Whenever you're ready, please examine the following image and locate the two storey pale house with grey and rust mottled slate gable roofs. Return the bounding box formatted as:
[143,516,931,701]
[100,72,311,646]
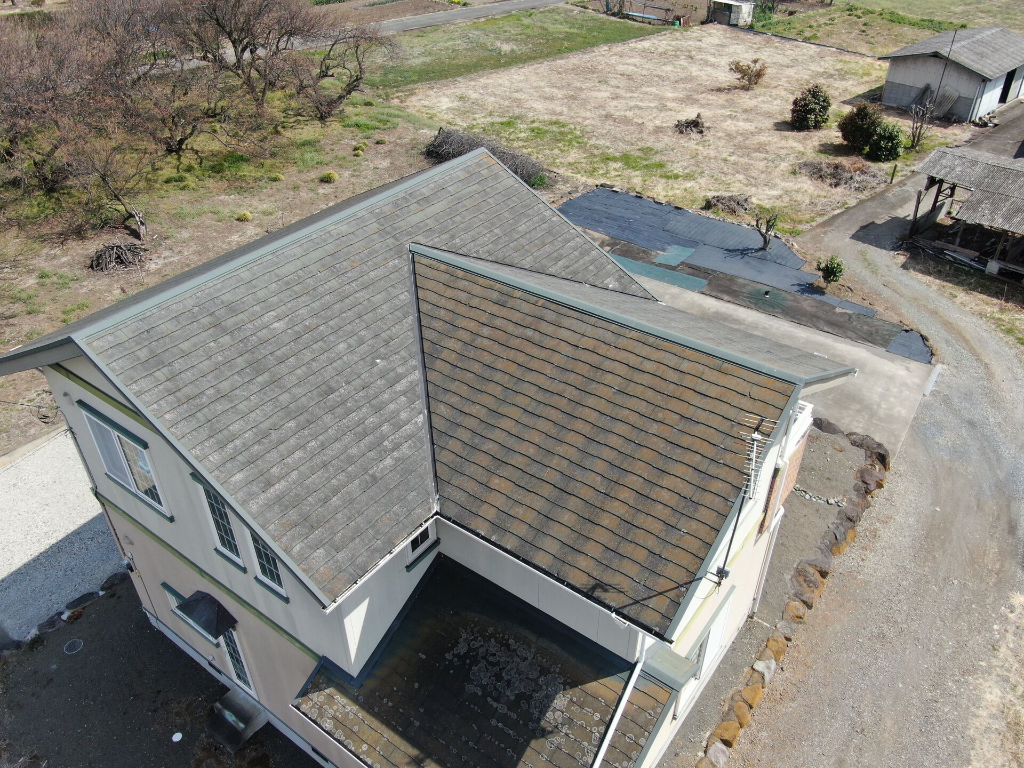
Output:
[0,148,862,768]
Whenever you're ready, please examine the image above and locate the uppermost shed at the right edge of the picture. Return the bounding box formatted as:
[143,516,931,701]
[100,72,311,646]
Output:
[879,21,1024,124]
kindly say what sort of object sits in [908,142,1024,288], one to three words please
barn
